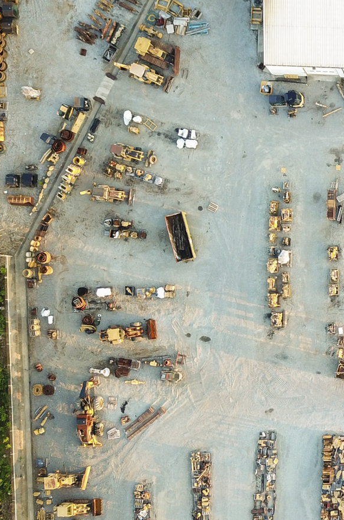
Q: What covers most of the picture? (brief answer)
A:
paved ground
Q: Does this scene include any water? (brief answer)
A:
No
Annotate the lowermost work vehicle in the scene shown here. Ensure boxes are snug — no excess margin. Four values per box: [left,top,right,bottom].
[55,494,113,519]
